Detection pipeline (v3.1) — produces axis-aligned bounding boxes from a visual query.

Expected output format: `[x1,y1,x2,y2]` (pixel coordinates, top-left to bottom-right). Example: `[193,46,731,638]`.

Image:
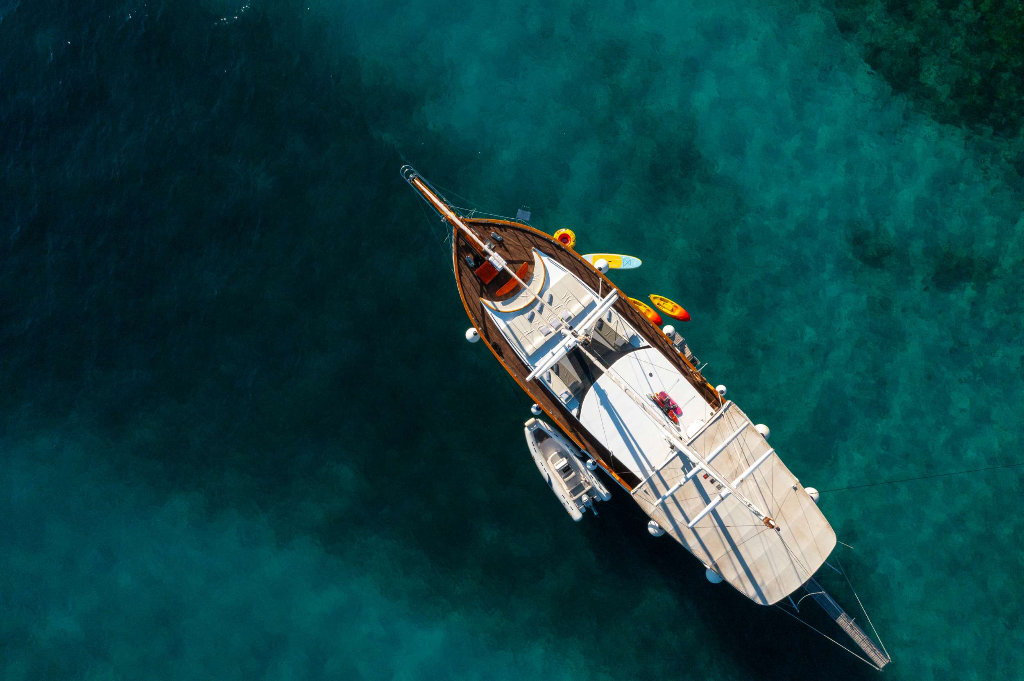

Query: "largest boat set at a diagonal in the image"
[401,162,1022,670]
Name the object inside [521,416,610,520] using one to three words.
boat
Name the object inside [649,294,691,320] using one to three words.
boat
